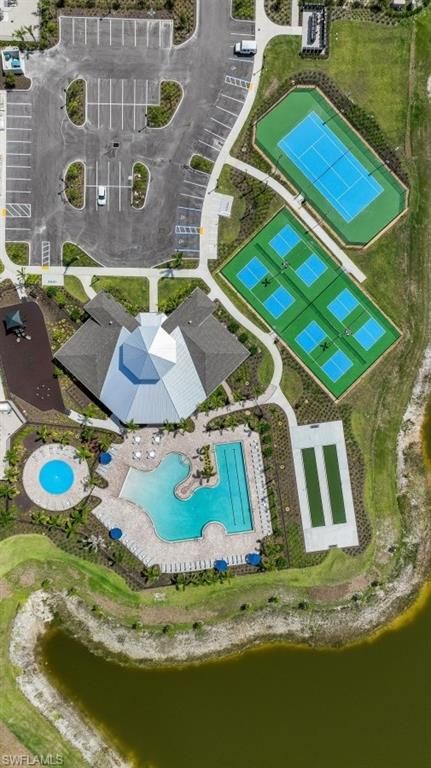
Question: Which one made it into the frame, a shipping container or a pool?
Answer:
pool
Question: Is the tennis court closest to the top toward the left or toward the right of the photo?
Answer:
right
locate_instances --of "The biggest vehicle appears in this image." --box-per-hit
[234,42,258,56]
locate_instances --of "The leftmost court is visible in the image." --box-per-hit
[236,256,296,319]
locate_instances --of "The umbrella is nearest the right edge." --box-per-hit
[246,552,260,566]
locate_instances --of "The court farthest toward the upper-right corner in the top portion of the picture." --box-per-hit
[253,86,409,248]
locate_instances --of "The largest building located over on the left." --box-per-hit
[54,287,250,424]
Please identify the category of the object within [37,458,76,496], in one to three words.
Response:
swimming pool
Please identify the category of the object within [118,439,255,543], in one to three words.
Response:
swimming pool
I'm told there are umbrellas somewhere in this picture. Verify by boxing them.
[246,552,260,566]
[109,526,122,539]
[214,558,228,572]
[100,452,112,464]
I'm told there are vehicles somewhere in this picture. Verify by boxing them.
[234,42,258,56]
[97,187,107,208]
